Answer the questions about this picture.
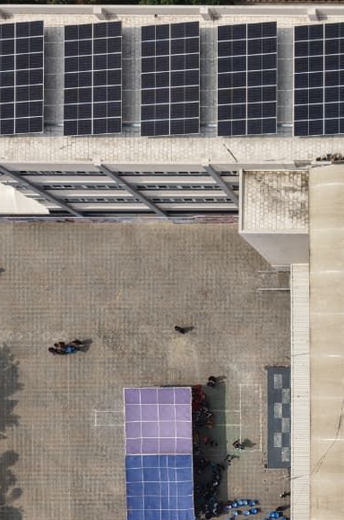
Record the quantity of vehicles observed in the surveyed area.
0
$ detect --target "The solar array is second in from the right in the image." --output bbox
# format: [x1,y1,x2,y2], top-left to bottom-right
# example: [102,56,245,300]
[217,21,278,142]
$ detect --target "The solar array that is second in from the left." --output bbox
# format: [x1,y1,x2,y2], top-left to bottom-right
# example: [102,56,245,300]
[65,21,128,142]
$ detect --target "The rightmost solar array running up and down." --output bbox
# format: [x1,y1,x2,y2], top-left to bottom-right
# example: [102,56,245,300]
[295,22,344,142]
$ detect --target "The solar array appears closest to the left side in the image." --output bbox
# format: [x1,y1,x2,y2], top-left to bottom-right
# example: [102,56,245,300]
[0,21,52,142]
